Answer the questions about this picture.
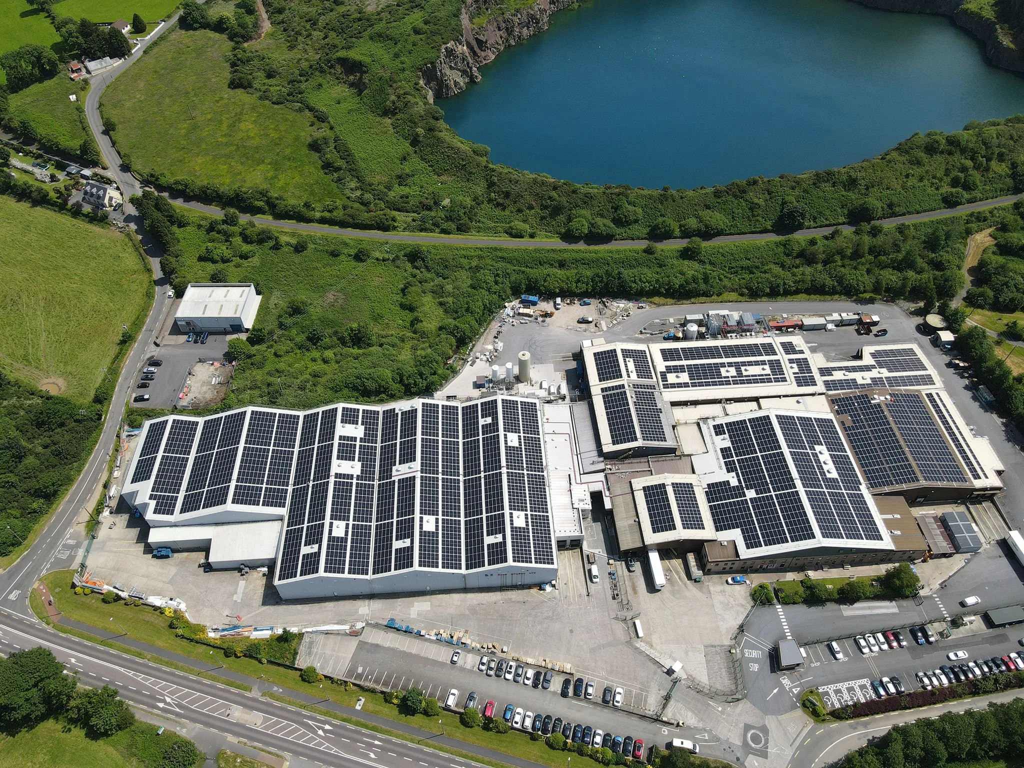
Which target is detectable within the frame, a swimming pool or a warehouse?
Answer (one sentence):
Of the two, only a warehouse appears.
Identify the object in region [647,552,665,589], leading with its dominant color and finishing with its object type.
white vehicle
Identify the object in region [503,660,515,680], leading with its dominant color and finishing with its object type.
white vehicle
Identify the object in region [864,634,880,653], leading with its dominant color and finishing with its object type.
white car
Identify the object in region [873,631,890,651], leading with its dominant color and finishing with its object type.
white car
